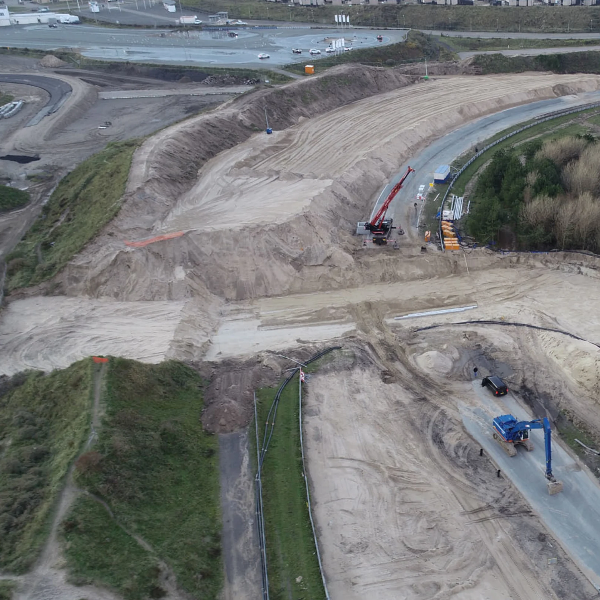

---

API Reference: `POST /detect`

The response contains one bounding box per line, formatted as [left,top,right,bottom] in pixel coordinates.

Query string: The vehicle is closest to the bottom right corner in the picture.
[492,411,567,498]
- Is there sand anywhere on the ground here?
Yes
